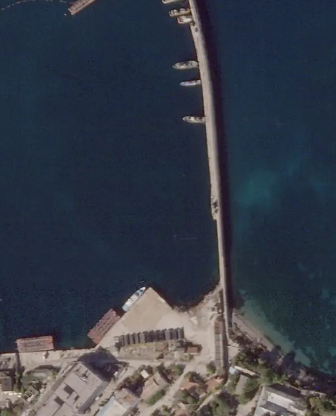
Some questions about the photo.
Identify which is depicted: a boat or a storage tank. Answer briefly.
boat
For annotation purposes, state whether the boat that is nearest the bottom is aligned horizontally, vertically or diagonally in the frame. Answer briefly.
diagonally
